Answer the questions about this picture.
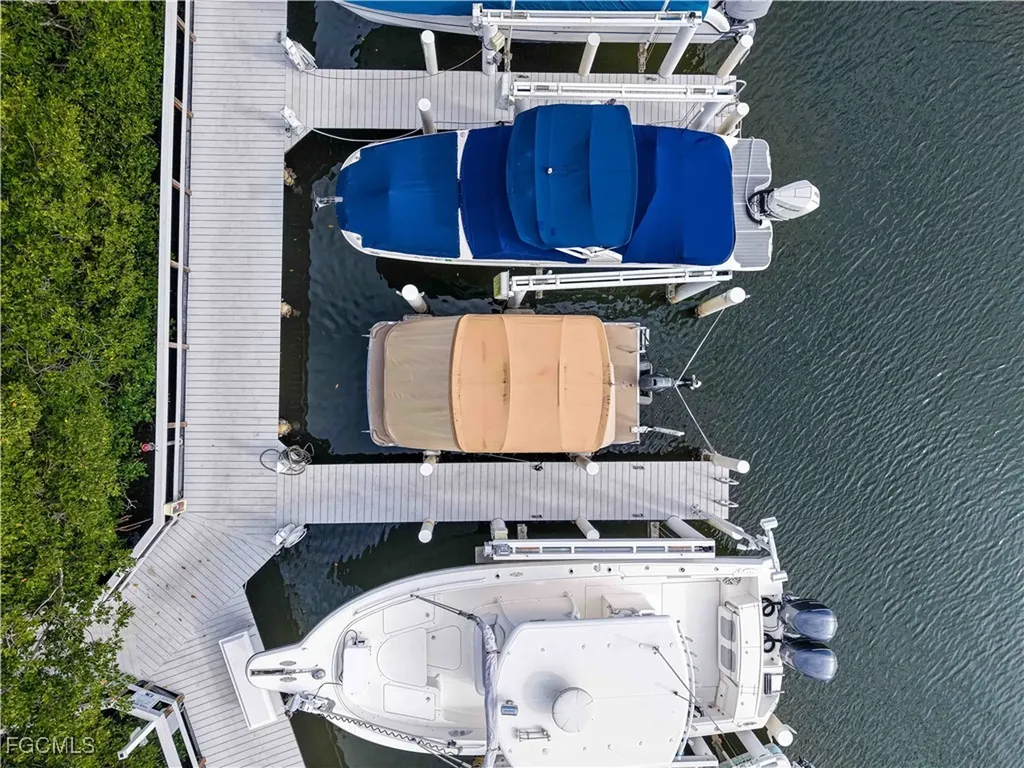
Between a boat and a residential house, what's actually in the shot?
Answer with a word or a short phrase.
boat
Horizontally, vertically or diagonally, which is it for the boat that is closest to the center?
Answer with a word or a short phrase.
horizontally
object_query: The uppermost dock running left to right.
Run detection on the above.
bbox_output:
[285,38,739,154]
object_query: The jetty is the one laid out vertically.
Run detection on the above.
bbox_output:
[63,0,311,768]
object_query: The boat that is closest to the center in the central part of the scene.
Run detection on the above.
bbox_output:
[361,307,705,460]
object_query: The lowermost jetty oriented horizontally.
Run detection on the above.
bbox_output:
[276,440,728,550]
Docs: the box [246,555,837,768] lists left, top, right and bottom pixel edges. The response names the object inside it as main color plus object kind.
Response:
white boat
